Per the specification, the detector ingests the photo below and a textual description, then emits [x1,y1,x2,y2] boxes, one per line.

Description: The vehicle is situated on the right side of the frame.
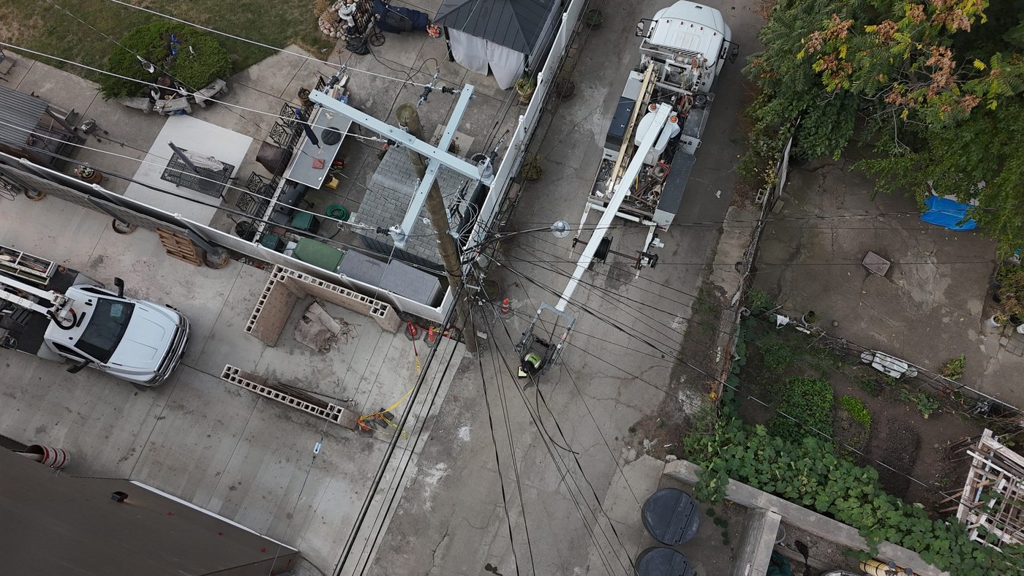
[515,4,740,389]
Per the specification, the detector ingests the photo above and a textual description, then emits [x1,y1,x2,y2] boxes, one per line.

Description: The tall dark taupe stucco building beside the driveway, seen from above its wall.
[0,427,299,576]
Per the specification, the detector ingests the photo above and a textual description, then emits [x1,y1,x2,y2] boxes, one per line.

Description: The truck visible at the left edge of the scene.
[0,242,193,392]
